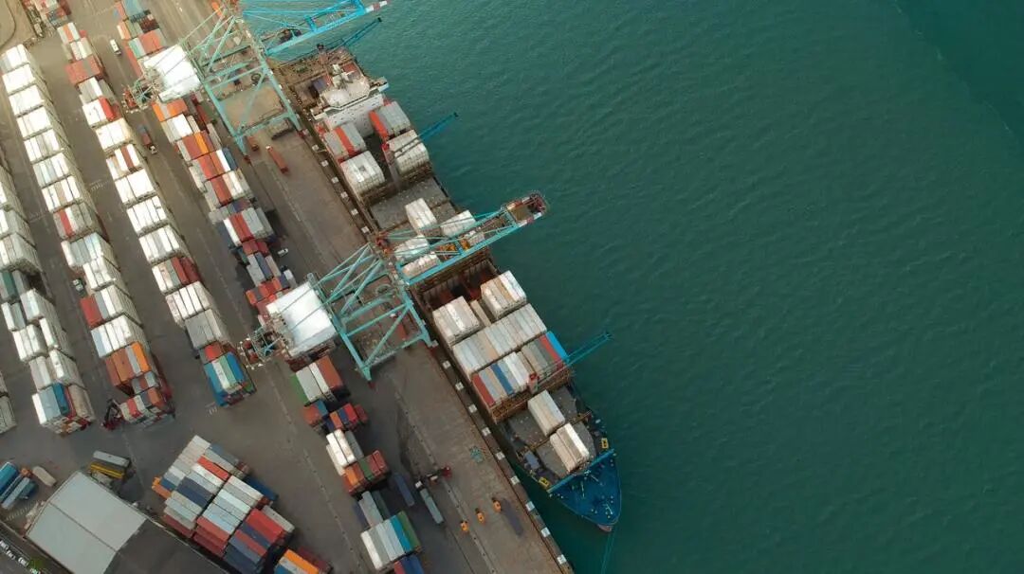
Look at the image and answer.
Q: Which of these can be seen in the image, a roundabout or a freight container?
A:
freight container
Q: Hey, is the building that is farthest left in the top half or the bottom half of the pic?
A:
bottom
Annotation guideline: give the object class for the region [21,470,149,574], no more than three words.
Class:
building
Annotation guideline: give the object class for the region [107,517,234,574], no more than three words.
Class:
shed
